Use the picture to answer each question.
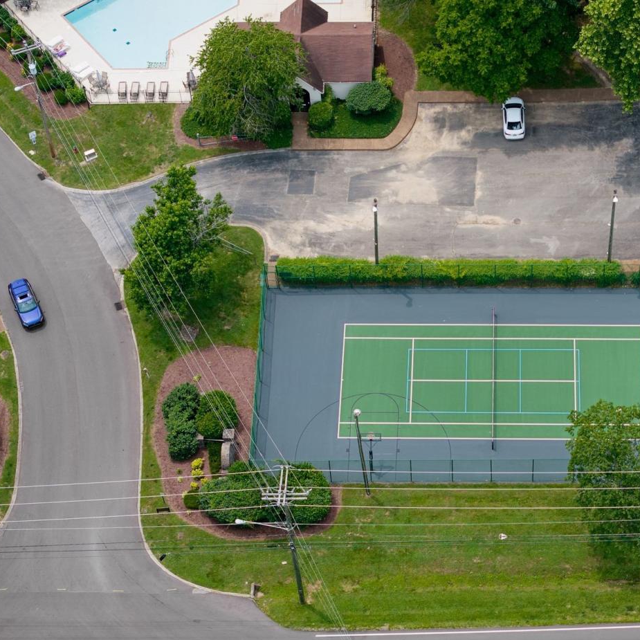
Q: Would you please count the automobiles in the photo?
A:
2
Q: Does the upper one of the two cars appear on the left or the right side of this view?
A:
right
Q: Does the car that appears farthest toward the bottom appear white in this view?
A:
No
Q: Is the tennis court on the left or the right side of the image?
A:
right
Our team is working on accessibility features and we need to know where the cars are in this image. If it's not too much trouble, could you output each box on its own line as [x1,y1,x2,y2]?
[501,98,526,142]
[8,279,45,331]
